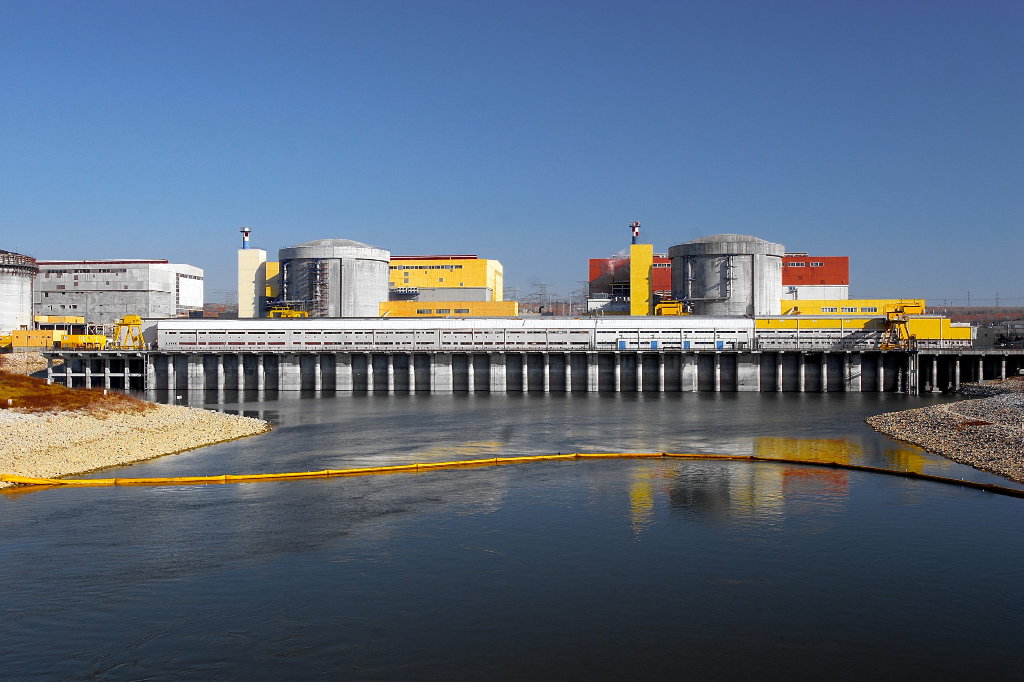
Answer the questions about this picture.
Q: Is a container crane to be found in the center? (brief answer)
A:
No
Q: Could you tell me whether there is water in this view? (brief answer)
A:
Yes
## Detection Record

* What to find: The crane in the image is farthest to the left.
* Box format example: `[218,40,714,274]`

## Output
[112,316,147,350]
